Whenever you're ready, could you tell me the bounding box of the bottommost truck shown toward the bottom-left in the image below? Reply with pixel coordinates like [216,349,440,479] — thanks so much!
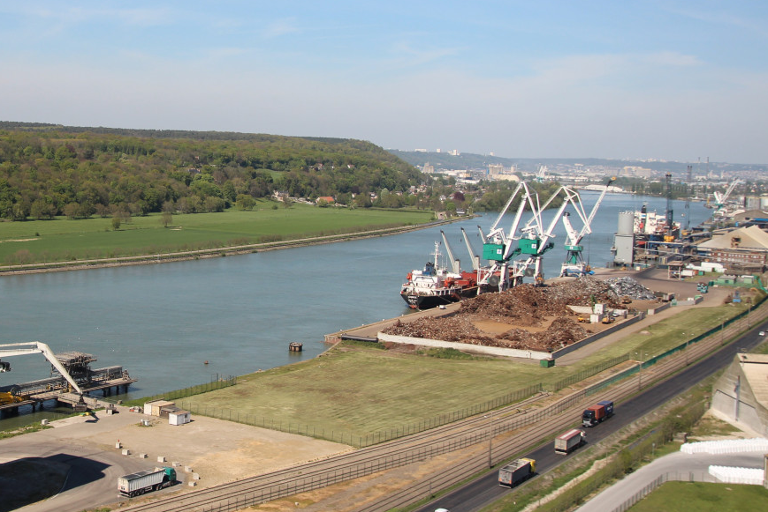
[123,465,182,495]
